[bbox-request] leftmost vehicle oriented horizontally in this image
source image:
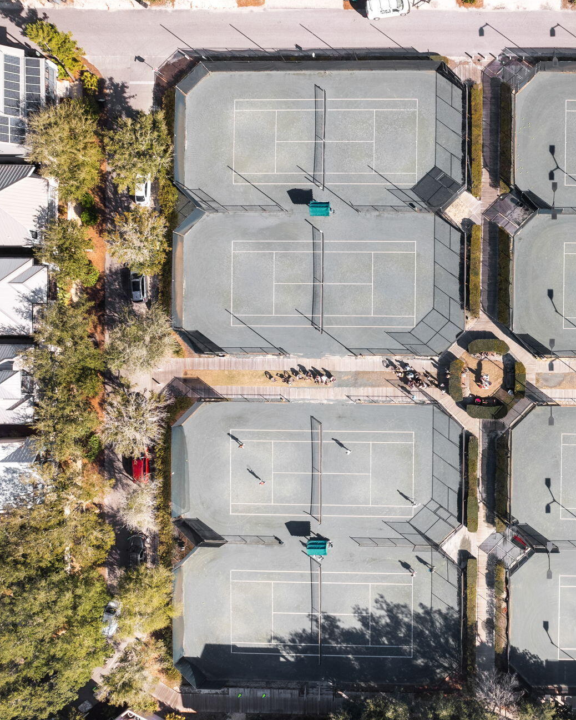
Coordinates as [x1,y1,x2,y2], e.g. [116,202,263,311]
[366,0,408,18]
